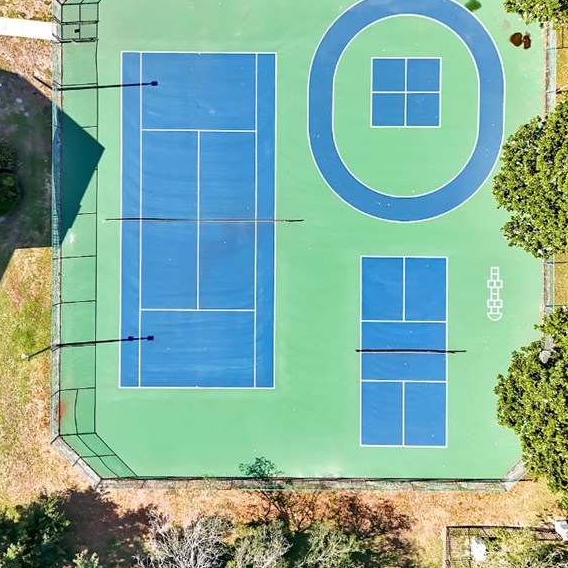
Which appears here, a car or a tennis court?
tennis court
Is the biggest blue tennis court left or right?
left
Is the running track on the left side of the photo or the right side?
right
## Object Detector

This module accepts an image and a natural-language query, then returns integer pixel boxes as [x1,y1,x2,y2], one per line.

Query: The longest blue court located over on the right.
[360,256,448,447]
